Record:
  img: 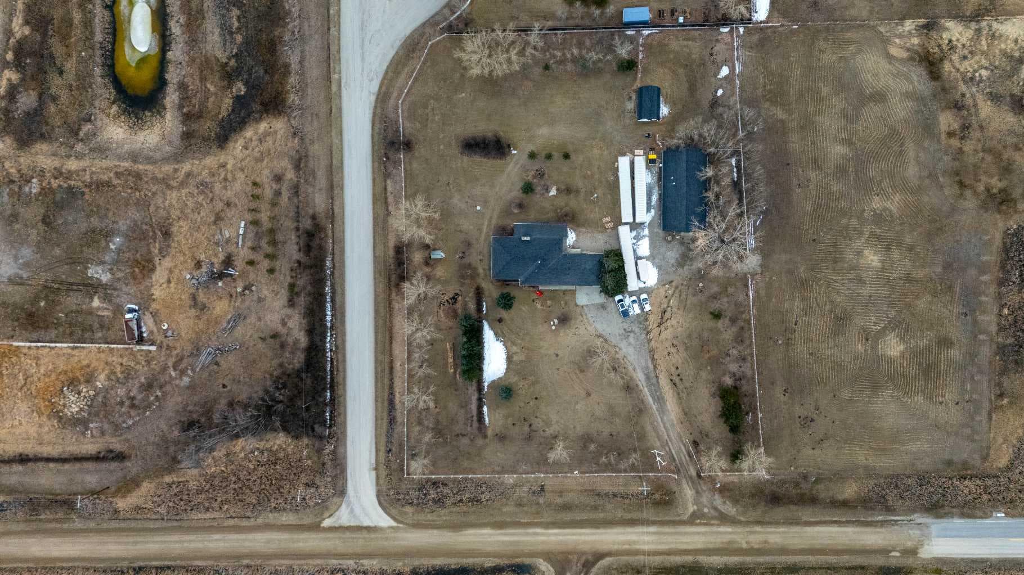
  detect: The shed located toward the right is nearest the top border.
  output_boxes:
[622,5,651,28]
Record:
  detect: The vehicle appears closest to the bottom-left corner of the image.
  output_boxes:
[125,305,142,343]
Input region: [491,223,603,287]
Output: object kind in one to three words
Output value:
house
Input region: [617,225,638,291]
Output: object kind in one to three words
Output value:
trailer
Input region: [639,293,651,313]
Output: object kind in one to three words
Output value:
vehicle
